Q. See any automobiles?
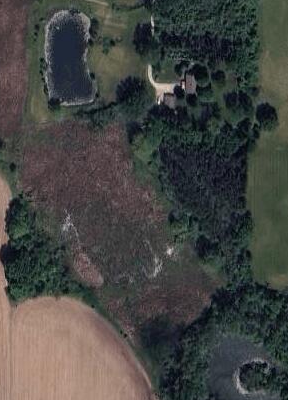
No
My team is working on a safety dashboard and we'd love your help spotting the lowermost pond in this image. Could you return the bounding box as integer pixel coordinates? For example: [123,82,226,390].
[207,333,286,400]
